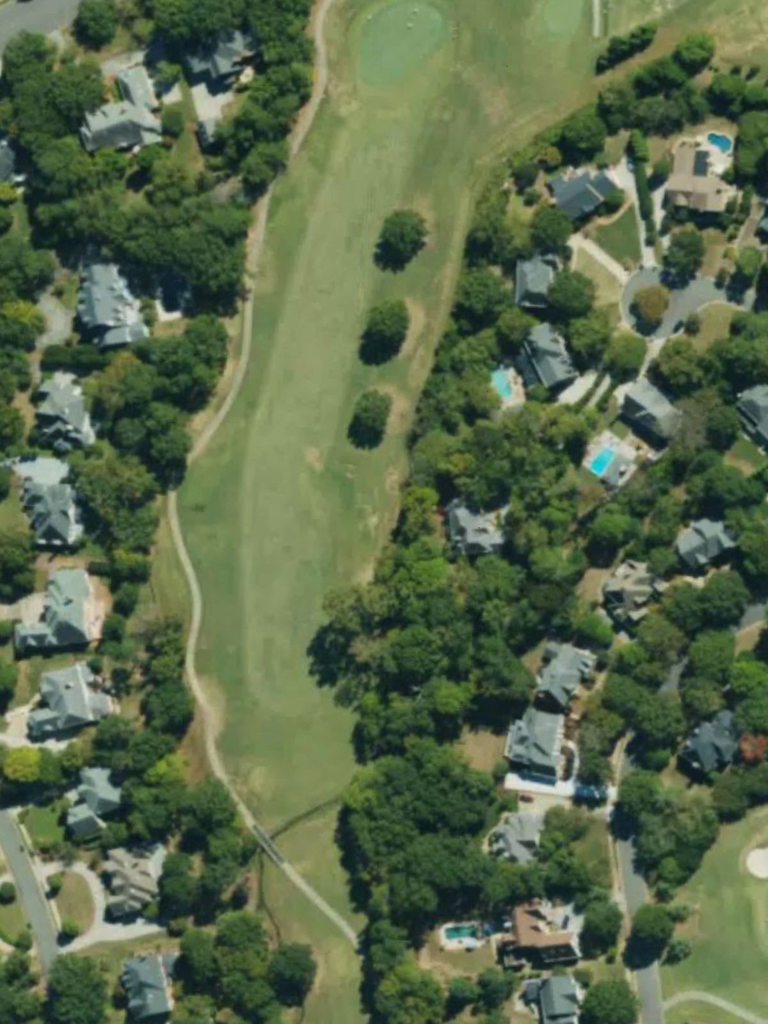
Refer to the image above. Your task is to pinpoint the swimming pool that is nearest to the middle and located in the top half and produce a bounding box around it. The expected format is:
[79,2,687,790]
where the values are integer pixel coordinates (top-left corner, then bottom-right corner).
[492,368,512,400]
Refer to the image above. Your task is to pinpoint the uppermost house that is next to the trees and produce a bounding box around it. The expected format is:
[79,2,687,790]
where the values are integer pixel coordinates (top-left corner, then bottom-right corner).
[185,35,256,89]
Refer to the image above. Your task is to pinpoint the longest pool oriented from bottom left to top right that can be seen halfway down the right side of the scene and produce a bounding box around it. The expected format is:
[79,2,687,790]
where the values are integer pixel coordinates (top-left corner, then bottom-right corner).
[588,444,617,477]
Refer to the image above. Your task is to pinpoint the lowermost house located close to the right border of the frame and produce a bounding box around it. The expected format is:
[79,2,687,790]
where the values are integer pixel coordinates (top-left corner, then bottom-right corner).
[684,708,739,775]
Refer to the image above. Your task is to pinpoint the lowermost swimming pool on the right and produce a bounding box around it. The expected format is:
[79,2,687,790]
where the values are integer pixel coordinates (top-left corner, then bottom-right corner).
[444,925,478,940]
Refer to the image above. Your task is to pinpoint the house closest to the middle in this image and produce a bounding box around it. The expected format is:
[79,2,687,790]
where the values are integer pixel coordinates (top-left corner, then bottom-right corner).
[445,502,511,558]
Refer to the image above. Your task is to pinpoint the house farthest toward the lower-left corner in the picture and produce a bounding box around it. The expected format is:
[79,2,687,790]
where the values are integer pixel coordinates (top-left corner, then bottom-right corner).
[121,949,180,1022]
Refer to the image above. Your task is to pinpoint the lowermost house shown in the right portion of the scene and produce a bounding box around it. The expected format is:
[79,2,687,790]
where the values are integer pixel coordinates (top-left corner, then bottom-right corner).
[519,971,585,1024]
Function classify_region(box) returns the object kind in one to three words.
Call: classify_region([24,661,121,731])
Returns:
house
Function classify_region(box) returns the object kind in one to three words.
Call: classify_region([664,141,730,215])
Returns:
house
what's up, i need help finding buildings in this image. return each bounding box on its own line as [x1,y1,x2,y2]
[80,63,169,149]
[613,376,680,450]
[12,567,94,654]
[605,559,668,623]
[24,661,121,731]
[506,706,565,775]
[38,378,95,455]
[121,949,180,1022]
[61,764,127,837]
[734,377,768,456]
[445,502,511,558]
[101,839,167,918]
[519,971,585,1024]
[495,805,545,865]
[514,254,563,308]
[499,898,583,964]
[519,315,579,391]
[78,259,150,347]
[23,480,85,544]
[664,141,730,215]
[185,35,256,89]
[673,514,735,567]
[537,640,597,713]
[684,708,739,775]
[542,162,623,221]
[196,119,221,147]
